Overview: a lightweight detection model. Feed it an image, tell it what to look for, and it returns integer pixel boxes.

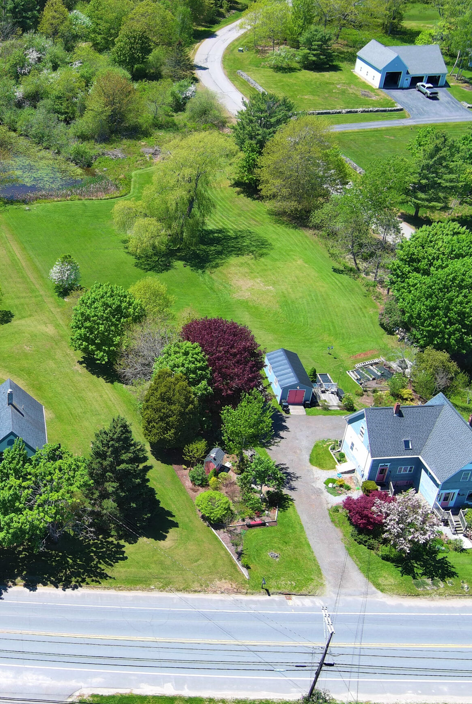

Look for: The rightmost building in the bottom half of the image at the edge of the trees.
[342,384,472,527]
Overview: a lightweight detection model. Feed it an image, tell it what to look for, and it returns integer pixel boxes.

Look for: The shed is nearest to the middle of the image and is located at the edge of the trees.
[266,347,315,414]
